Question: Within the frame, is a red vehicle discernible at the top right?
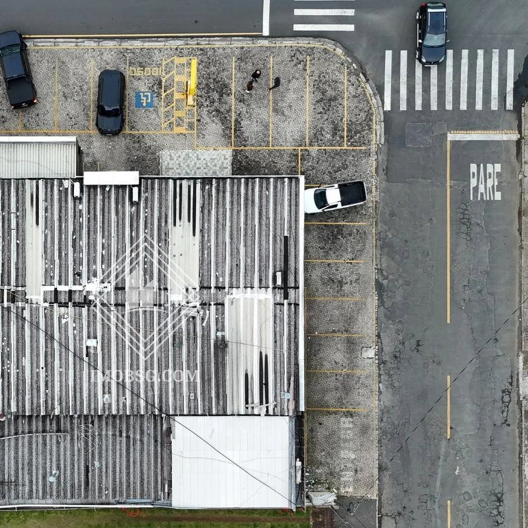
No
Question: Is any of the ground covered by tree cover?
No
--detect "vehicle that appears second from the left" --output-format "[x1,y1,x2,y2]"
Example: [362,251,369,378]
[95,69,127,137]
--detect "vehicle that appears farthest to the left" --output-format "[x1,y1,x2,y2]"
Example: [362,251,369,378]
[0,32,36,111]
